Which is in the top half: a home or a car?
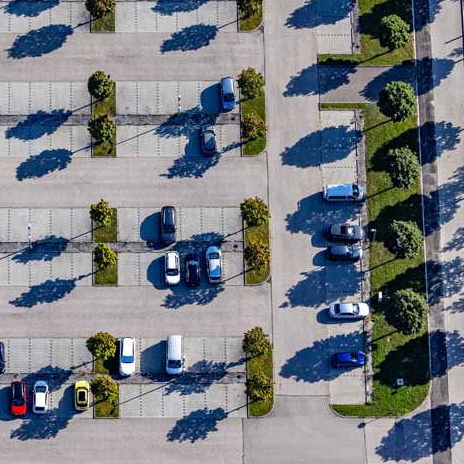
car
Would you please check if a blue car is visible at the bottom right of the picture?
Yes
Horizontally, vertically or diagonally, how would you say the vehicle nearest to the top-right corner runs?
horizontally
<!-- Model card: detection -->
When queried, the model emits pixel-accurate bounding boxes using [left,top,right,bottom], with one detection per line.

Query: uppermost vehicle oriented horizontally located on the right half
[324,183,365,203]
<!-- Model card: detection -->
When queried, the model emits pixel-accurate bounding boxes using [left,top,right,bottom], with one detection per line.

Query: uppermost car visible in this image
[220,79,237,111]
